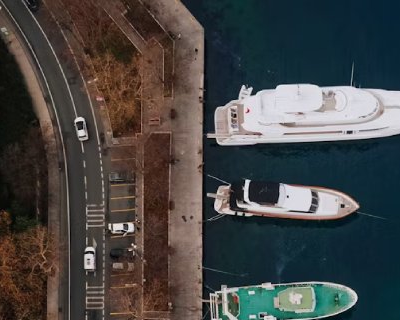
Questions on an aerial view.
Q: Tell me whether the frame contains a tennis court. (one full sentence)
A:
No, this view has no tennis court in it.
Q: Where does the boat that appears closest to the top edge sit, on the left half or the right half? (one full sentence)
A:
The boat that appears closest to the top edge appears in the right half of the scene.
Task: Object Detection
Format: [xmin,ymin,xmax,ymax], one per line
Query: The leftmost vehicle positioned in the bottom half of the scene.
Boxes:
[81,245,95,271]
